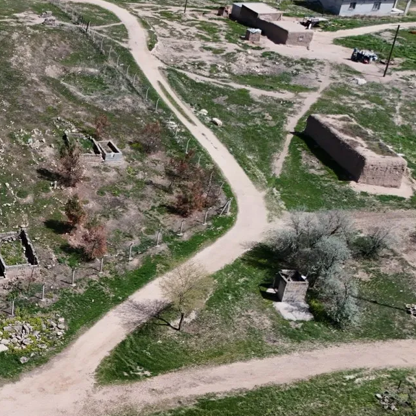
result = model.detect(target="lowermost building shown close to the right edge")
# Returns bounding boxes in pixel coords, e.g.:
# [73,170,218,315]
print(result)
[317,111,409,184]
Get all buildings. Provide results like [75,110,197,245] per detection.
[308,0,413,16]
[264,265,324,320]
[317,111,409,184]
[226,0,316,46]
